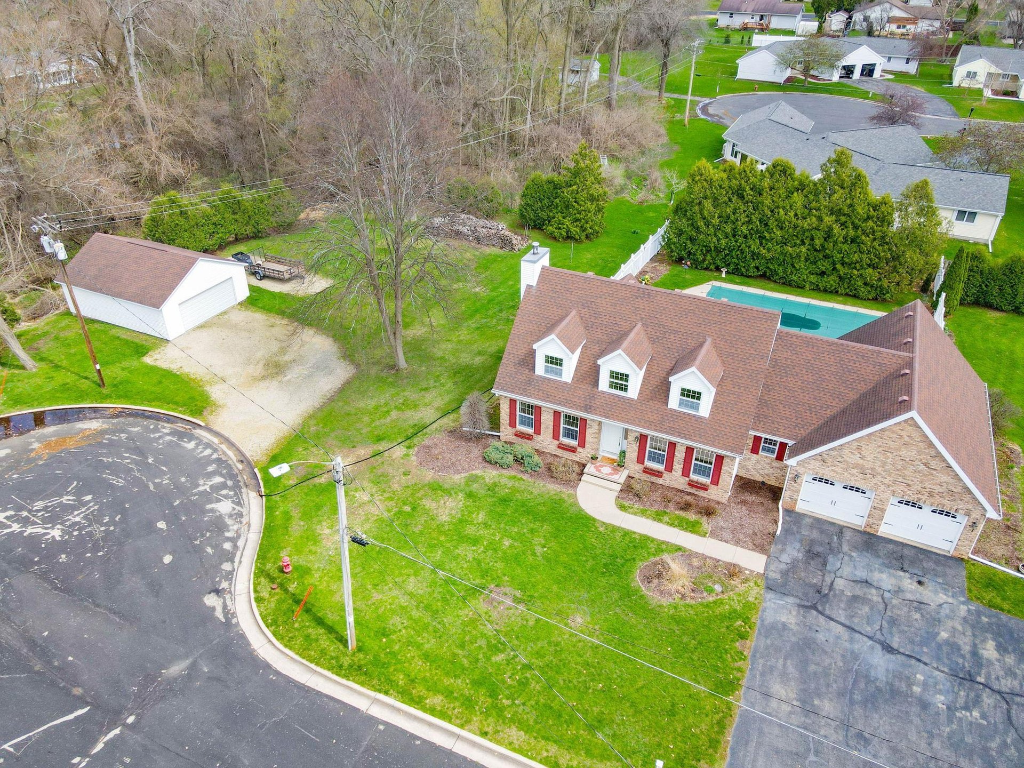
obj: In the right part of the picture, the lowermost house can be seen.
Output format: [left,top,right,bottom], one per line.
[462,242,1024,578]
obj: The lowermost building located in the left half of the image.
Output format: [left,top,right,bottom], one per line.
[52,235,251,340]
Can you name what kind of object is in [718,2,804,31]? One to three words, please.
house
